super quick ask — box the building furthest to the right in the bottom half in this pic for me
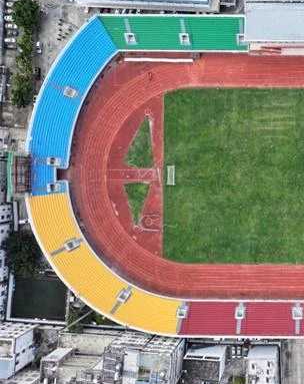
[246,344,280,384]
